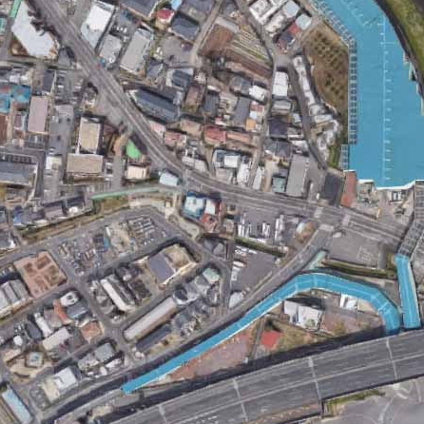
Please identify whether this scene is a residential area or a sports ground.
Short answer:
residential area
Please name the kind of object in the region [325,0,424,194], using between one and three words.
shed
